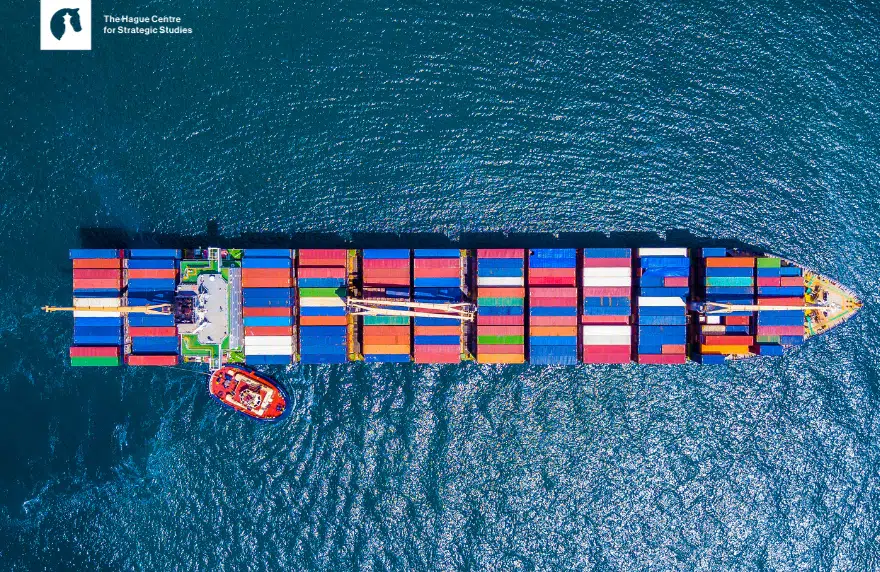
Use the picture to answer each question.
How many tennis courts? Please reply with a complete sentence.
The photo contains no tennis courts.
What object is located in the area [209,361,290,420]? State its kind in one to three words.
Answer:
boat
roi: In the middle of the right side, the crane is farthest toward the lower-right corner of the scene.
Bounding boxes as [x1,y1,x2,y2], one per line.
[688,302,834,318]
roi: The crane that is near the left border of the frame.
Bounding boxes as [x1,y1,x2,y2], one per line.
[40,300,172,314]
